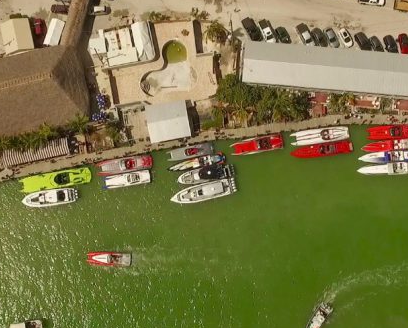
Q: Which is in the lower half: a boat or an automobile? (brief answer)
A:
boat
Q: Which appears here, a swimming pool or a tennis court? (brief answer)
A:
swimming pool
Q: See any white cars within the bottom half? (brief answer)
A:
No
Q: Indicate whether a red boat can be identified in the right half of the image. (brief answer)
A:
Yes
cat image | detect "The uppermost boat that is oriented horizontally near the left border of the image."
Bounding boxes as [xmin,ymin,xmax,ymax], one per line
[19,165,96,193]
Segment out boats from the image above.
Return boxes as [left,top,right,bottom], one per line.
[357,161,408,175]
[307,304,332,328]
[102,169,154,190]
[290,141,355,158]
[168,150,229,170]
[177,163,233,185]
[366,126,408,140]
[86,251,135,266]
[19,165,96,193]
[289,126,353,148]
[361,138,408,152]
[228,133,286,156]
[166,141,219,164]
[21,187,79,206]
[358,149,408,163]
[170,175,238,202]
[97,153,155,174]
